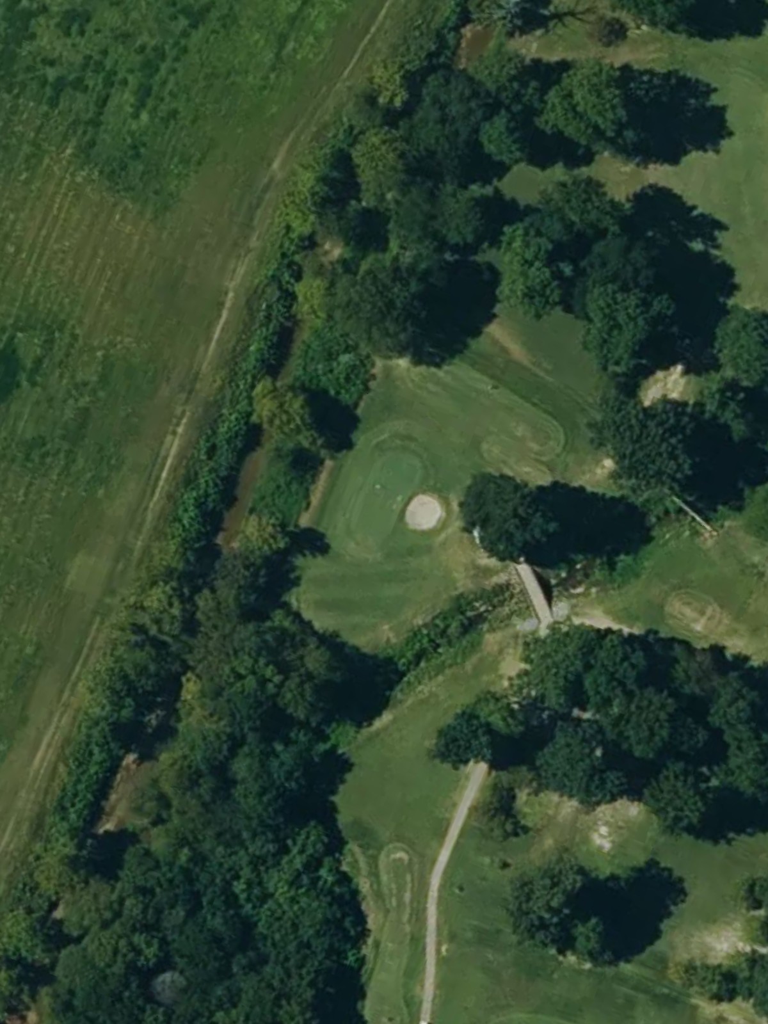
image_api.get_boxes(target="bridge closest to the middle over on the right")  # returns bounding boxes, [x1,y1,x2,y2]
[513,552,552,625]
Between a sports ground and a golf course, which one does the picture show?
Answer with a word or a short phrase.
golf course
